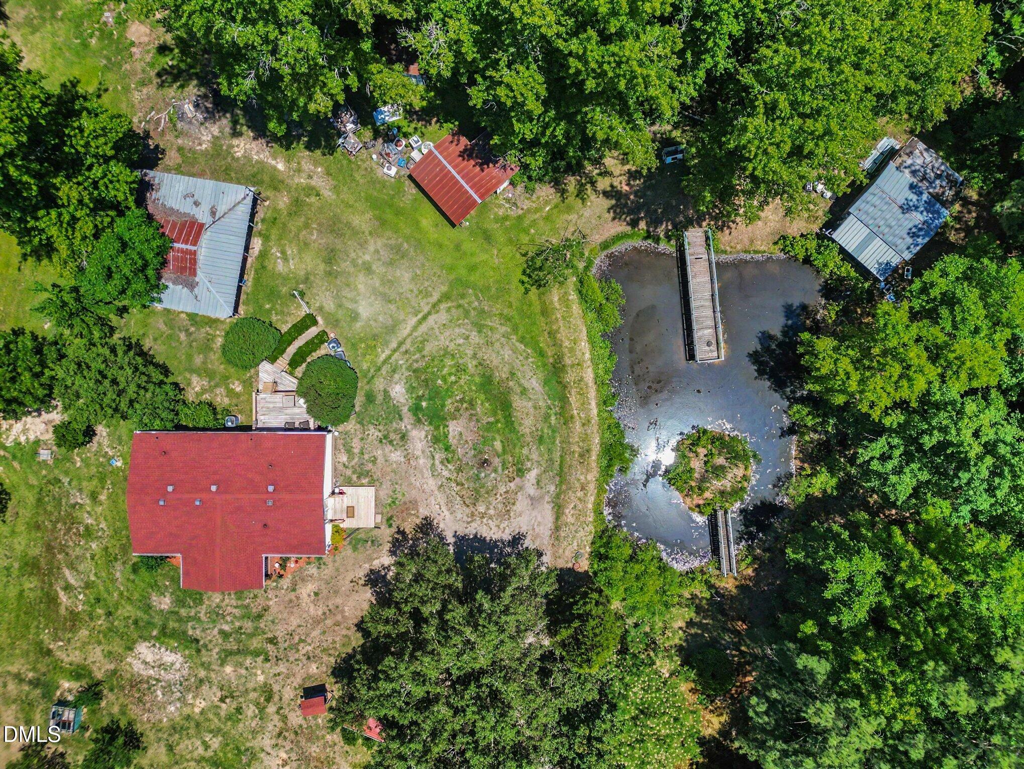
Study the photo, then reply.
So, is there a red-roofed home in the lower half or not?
Yes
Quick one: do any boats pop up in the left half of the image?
No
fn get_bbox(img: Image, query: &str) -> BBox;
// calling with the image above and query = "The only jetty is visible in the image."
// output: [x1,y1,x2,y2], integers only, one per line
[680,229,724,363]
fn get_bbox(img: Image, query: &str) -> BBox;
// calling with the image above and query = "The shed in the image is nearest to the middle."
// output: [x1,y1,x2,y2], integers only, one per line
[409,129,519,229]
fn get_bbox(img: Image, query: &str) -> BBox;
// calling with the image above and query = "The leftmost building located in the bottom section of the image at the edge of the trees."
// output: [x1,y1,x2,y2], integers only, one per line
[126,431,334,592]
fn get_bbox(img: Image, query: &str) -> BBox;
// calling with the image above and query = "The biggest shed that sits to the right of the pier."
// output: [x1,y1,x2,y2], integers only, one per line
[823,161,949,282]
